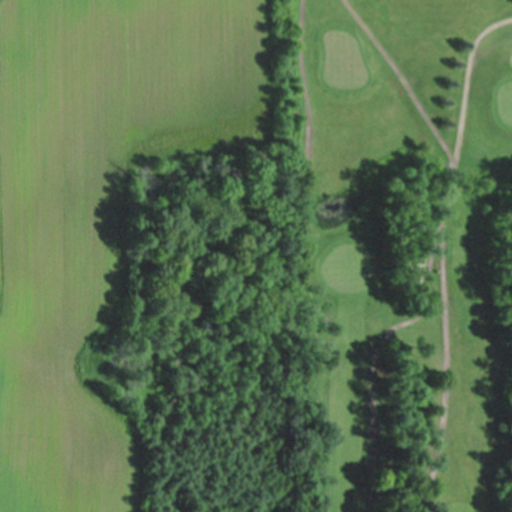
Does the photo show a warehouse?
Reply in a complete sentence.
No, I can't see a single warehouse in this photo.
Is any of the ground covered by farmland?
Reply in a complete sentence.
Yes, farmland can be seen from above here.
